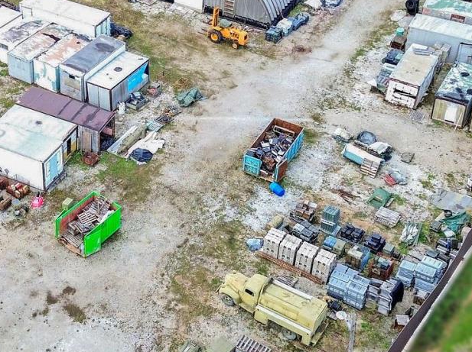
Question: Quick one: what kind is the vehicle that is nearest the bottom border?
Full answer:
What you see as the vehicle that is nearest the bottom border is a truck.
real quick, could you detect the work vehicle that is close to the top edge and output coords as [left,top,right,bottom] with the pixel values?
[198,5,252,48]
